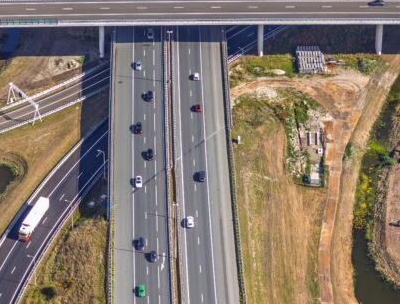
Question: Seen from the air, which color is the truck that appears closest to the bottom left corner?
white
